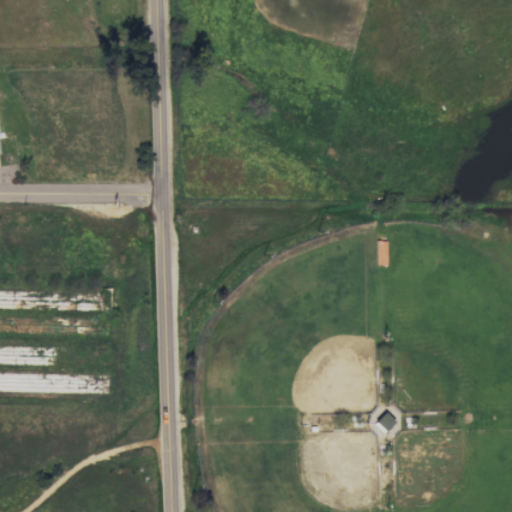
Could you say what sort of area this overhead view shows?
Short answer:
sports ground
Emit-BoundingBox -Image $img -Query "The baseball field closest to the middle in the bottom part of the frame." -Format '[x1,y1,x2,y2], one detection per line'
[203,232,376,412]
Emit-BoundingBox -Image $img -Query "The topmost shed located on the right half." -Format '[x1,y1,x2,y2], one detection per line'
[377,240,389,266]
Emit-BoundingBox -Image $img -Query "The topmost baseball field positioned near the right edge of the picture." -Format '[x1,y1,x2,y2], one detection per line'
[396,226,512,410]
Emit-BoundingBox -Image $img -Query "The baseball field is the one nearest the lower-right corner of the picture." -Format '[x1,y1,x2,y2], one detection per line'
[397,432,512,512]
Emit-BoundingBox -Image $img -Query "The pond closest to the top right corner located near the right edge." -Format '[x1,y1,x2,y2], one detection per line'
[456,101,512,201]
